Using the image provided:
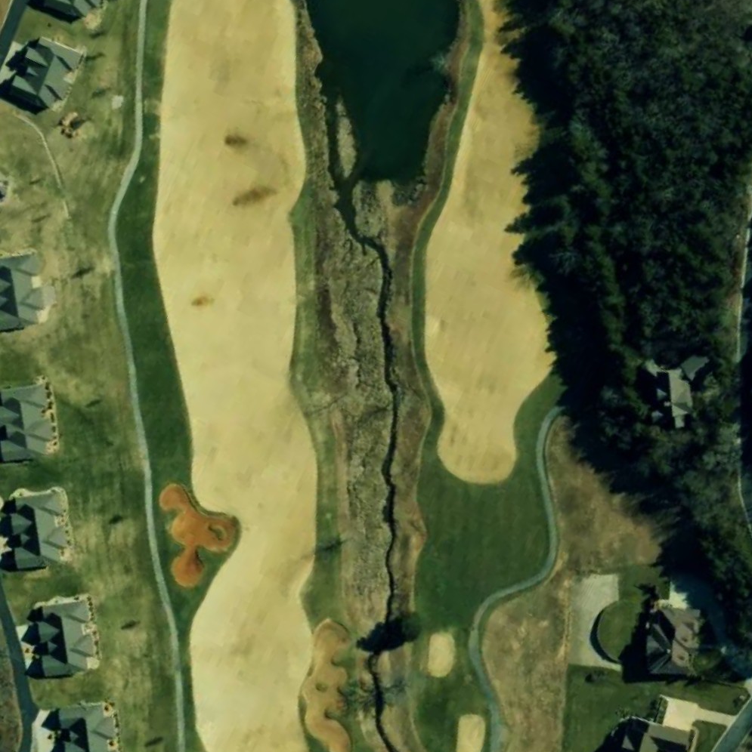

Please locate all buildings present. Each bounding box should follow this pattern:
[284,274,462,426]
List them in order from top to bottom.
[46,0,102,19]
[11,33,83,112]
[0,254,45,329]
[645,353,714,430]
[0,387,53,463]
[8,493,66,569]
[37,602,93,678]
[643,609,702,676]
[60,708,115,752]
[622,719,695,752]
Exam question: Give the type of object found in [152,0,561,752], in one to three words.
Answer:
golf course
